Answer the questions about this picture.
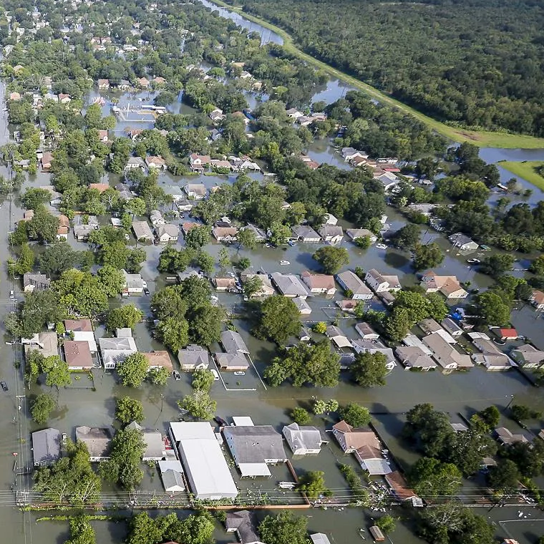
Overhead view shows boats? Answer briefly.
No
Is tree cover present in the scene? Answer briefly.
Yes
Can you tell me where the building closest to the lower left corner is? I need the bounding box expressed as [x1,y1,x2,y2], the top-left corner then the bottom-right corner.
[31,432,60,467]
